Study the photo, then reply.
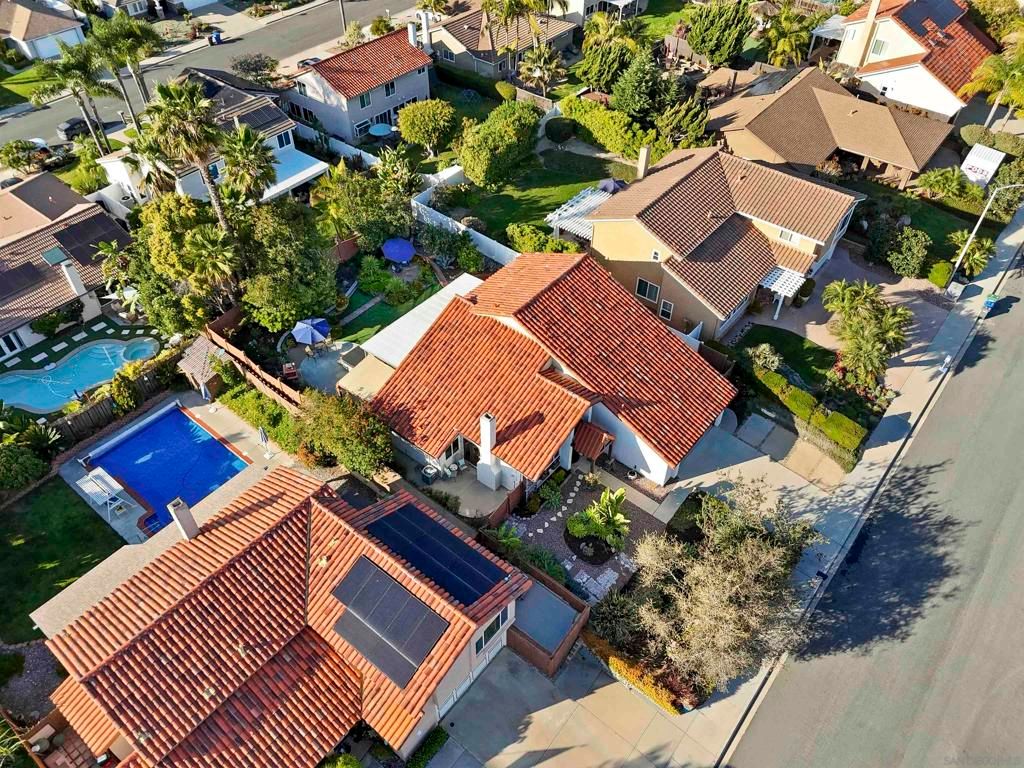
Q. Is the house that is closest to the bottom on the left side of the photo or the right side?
left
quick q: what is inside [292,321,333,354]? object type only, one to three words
umbrella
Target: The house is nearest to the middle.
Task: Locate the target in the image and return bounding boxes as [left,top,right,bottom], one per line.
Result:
[369,250,741,498]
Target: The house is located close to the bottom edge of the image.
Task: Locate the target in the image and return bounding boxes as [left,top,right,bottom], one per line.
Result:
[44,463,535,768]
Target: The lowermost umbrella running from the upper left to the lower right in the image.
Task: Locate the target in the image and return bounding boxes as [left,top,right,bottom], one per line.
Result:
[258,429,277,457]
